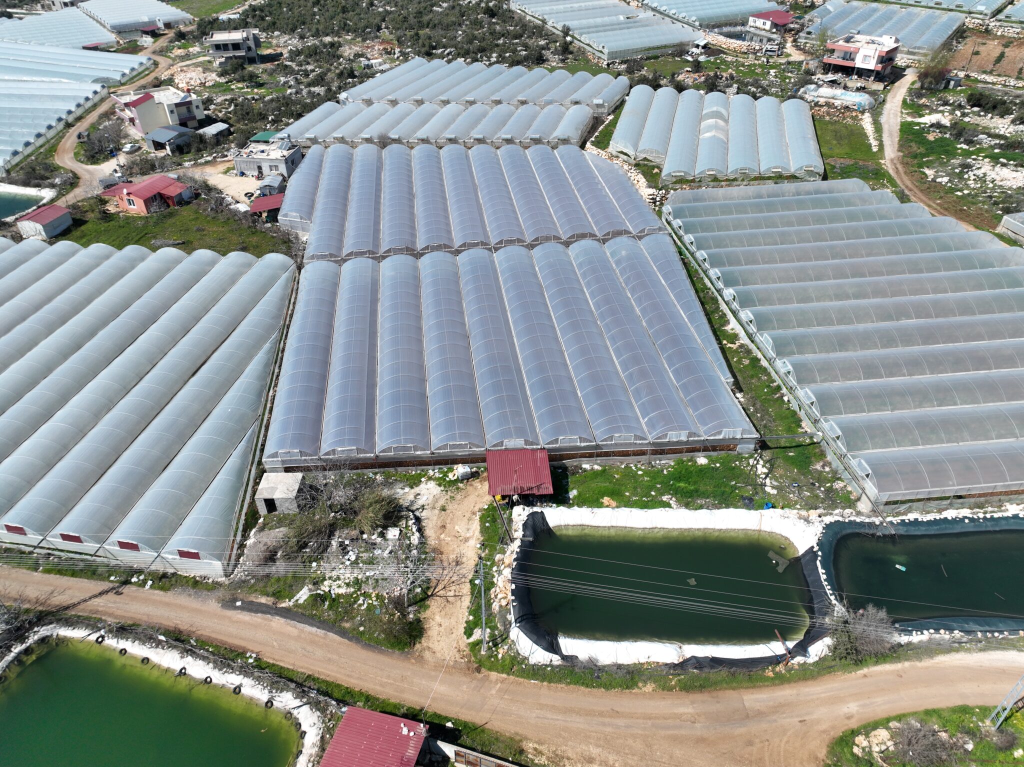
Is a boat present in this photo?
No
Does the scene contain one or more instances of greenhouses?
Yes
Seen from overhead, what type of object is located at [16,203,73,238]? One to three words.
shed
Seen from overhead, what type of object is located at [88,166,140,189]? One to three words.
truck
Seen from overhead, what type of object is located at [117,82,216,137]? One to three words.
house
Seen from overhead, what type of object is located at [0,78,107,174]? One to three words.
greenhouse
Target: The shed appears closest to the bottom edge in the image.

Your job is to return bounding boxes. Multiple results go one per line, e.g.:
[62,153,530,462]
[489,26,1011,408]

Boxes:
[319,706,431,767]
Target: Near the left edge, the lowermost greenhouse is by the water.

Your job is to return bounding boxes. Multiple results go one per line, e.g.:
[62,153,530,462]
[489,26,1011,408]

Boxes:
[0,233,298,588]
